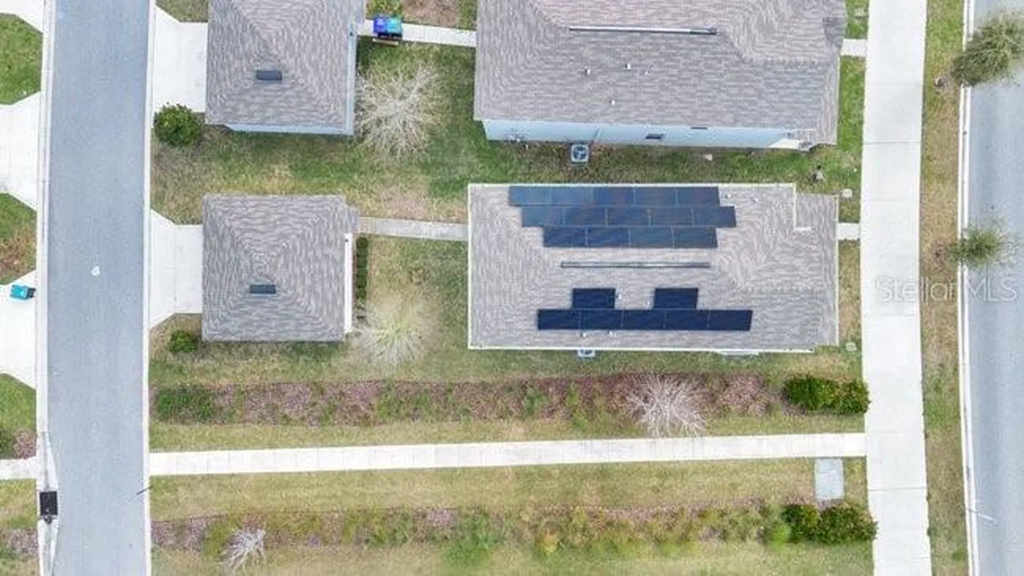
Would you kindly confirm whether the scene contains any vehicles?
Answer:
No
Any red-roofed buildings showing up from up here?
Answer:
No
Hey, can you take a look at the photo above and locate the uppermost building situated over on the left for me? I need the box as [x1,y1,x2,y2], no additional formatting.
[206,0,369,133]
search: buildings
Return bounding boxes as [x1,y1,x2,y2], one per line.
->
[202,193,360,342]
[466,182,840,356]
[474,0,860,153]
[206,0,369,133]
